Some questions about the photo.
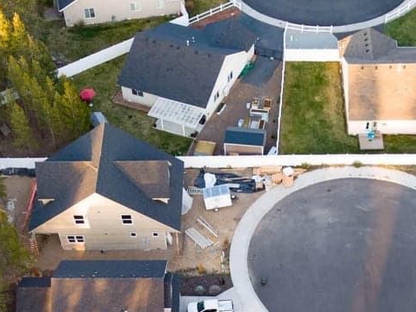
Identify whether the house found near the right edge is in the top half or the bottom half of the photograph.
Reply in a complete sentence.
The house found near the right edge is in the top half of the image.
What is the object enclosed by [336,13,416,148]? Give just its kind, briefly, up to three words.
house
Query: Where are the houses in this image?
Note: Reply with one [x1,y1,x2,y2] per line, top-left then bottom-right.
[117,15,257,138]
[56,0,183,25]
[336,13,416,148]
[29,121,185,250]
[15,260,181,312]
